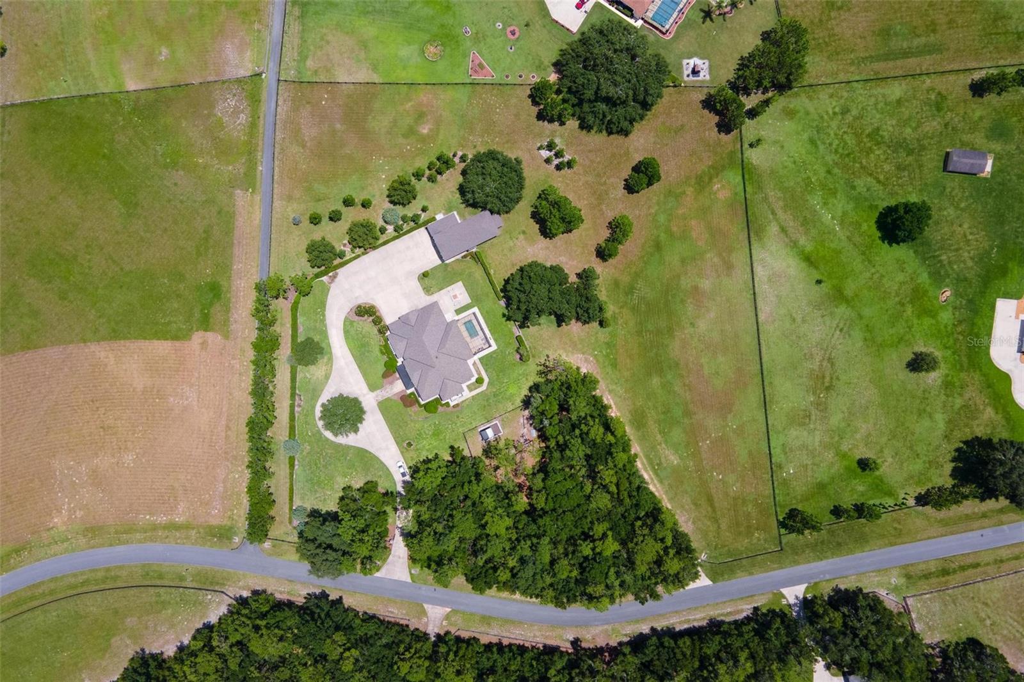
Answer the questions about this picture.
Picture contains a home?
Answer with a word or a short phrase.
Yes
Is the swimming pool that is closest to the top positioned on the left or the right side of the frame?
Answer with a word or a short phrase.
right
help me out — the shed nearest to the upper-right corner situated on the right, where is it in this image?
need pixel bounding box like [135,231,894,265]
[944,150,994,177]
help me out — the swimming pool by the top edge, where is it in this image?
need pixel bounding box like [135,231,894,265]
[652,0,681,23]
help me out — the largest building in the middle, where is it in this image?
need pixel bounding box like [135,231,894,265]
[387,300,475,402]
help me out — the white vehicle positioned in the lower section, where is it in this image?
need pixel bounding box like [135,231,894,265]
[395,460,409,481]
